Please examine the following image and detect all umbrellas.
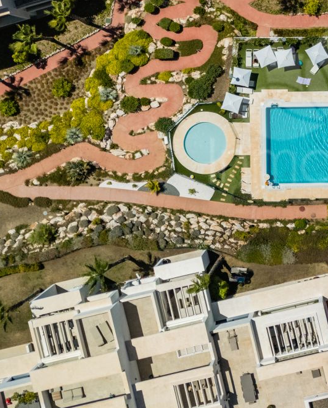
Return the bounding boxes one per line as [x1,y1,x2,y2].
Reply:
[223,91,244,112]
[254,45,277,68]
[275,49,296,69]
[231,67,252,87]
[305,40,328,66]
